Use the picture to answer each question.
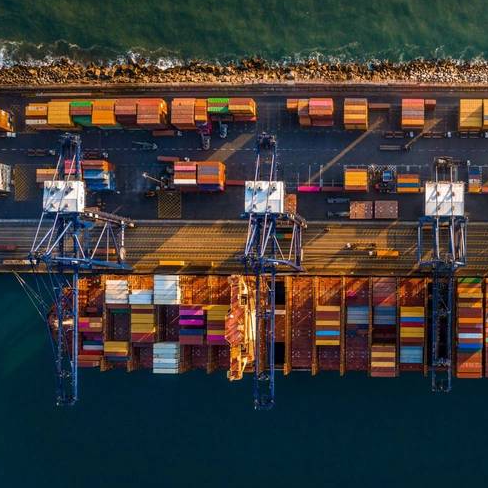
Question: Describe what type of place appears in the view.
port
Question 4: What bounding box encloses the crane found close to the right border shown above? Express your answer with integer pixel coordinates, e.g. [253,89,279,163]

[414,157,471,396]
